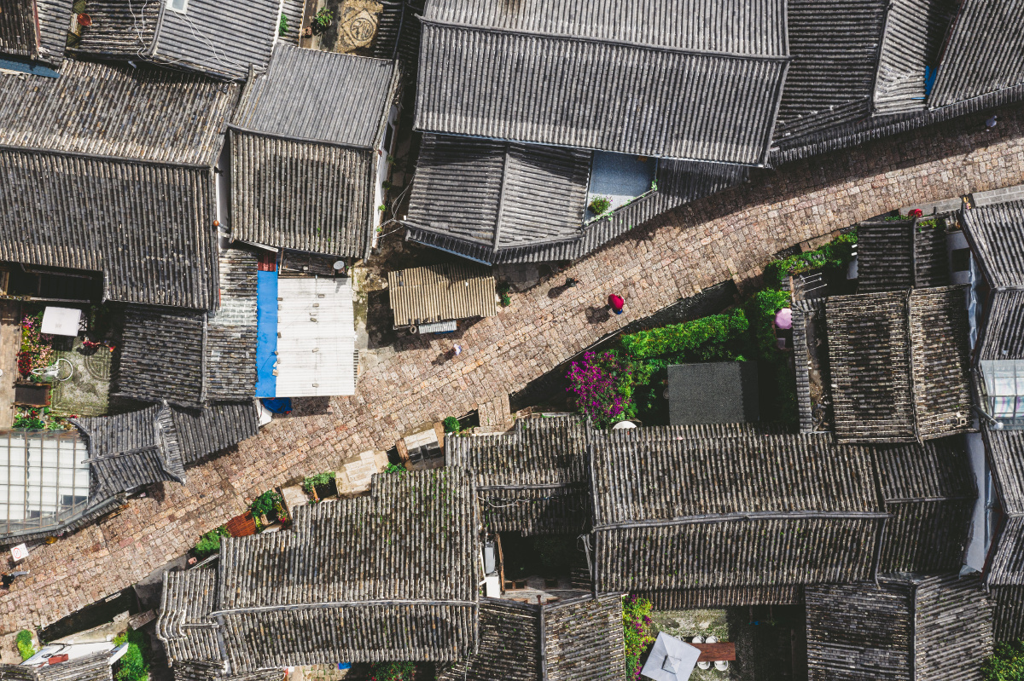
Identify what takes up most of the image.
buildings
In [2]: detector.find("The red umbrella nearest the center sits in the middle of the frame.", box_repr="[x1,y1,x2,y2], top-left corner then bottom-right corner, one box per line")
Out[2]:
[606,293,621,311]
